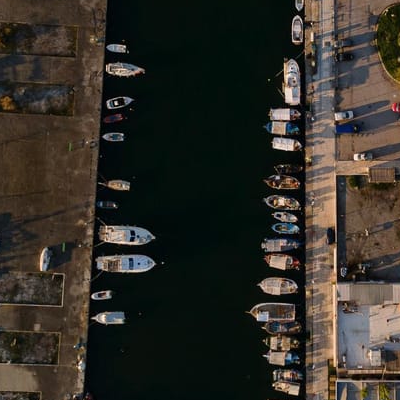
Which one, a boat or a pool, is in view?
boat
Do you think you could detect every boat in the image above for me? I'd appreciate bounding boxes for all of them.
[102,62,145,76]
[269,107,304,120]
[93,253,156,279]
[96,201,118,209]
[294,0,304,11]
[100,176,130,191]
[262,320,307,335]
[96,220,156,245]
[103,113,125,123]
[291,14,303,47]
[271,137,303,151]
[89,290,112,301]
[272,212,305,223]
[89,312,126,326]
[105,43,127,52]
[104,96,134,110]
[101,132,125,141]
[263,255,306,273]
[262,352,300,368]
[274,164,307,173]
[256,278,304,296]
[262,196,306,211]
[262,174,305,190]
[278,52,302,104]
[271,223,305,235]
[246,303,308,323]
[262,337,300,353]
[271,382,307,400]
[263,121,305,135]
[260,239,305,254]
